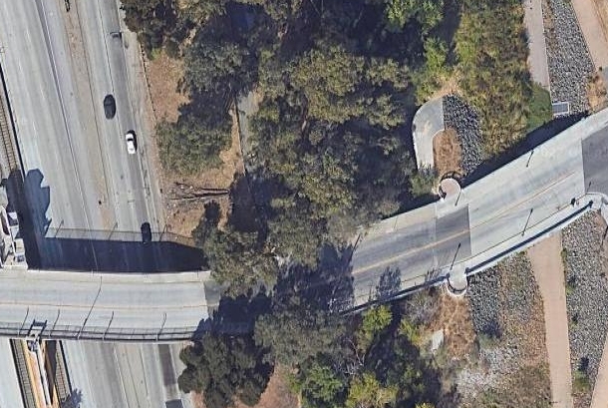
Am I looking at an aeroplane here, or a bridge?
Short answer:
bridge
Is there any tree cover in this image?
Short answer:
Yes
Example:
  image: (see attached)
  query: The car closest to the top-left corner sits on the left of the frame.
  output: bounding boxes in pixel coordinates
[103,94,116,118]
